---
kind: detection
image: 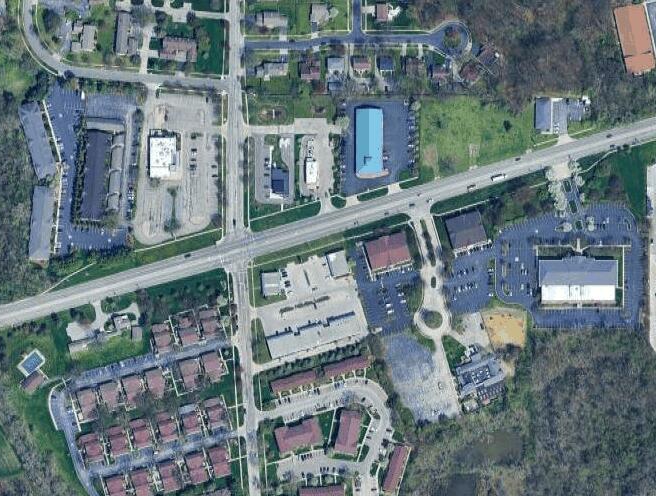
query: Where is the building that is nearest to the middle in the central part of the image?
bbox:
[328,251,351,278]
